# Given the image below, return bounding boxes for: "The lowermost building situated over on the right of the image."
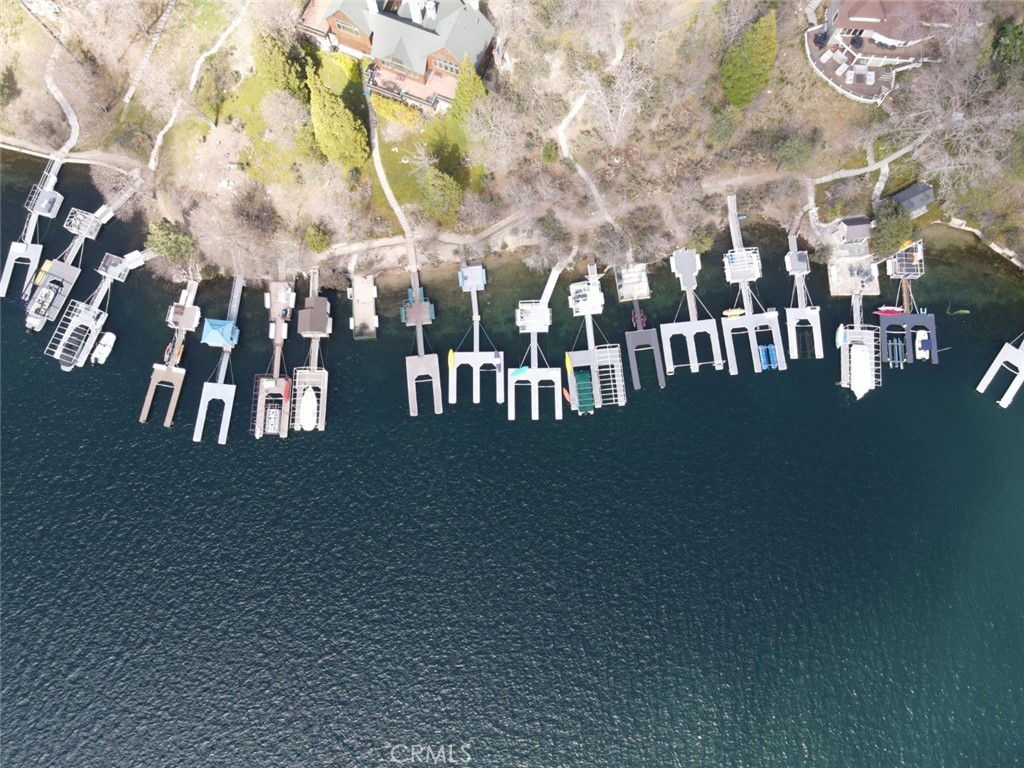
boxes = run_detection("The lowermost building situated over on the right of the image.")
[833,217,873,250]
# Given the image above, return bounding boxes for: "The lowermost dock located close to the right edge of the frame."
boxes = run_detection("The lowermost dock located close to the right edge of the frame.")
[975,327,1024,409]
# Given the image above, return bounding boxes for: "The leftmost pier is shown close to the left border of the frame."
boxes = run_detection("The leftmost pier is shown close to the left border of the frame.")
[0,153,68,301]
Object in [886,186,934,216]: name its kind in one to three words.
shed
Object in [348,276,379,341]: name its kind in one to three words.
pier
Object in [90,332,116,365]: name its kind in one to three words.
boat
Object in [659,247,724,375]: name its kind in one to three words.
pier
